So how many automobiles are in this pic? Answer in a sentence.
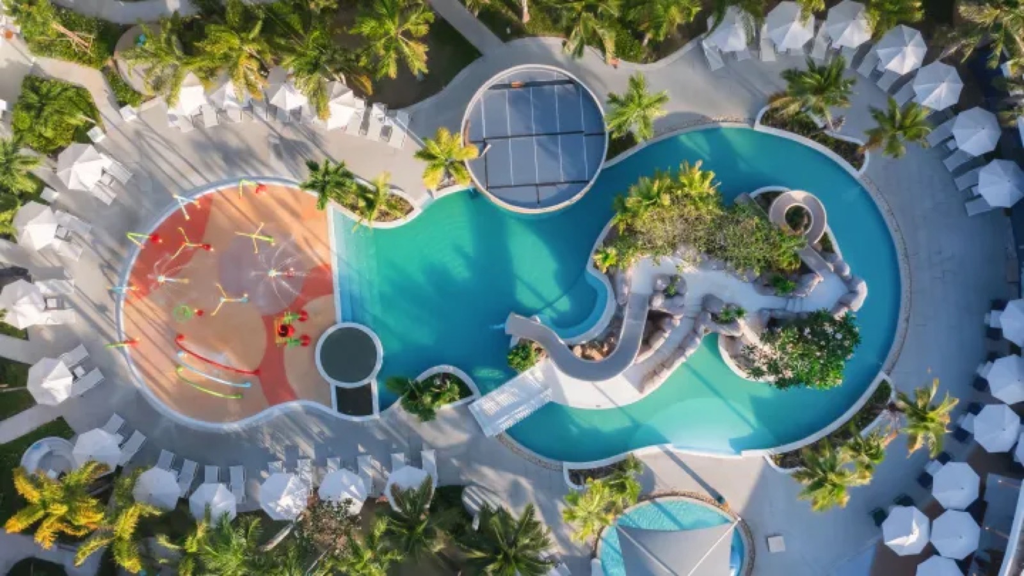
There are no automobiles in this view.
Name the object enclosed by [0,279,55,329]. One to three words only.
umbrella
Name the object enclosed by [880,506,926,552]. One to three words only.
umbrella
